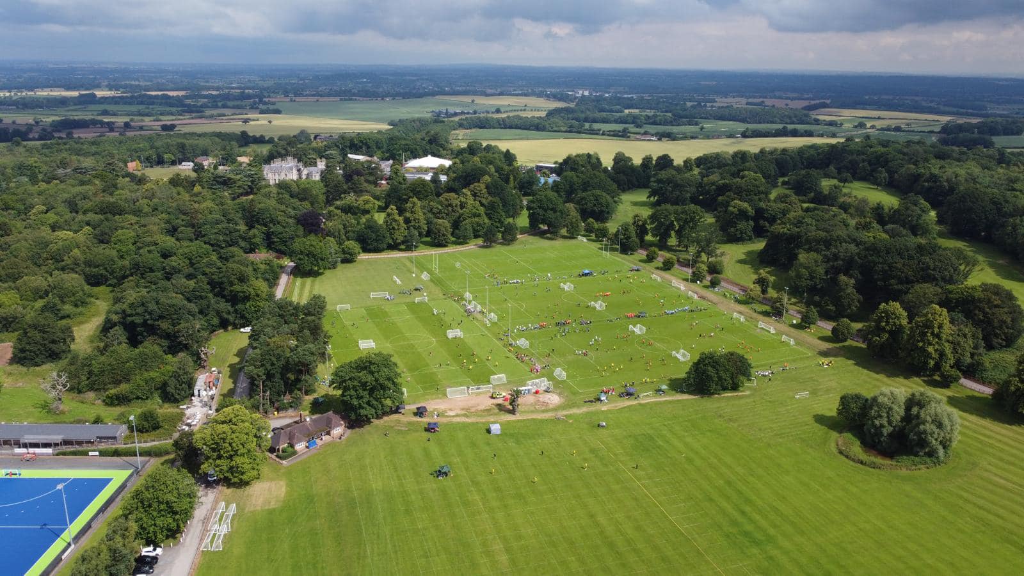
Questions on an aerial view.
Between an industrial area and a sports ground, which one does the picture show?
sports ground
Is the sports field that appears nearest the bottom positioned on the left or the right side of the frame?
left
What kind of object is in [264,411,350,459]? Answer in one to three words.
building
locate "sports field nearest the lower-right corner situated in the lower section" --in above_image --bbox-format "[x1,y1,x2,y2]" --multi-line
[197,232,1024,576]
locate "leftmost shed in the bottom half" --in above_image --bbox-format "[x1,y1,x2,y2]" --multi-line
[0,420,134,451]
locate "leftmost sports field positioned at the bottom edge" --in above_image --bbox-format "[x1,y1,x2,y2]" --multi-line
[0,479,113,576]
